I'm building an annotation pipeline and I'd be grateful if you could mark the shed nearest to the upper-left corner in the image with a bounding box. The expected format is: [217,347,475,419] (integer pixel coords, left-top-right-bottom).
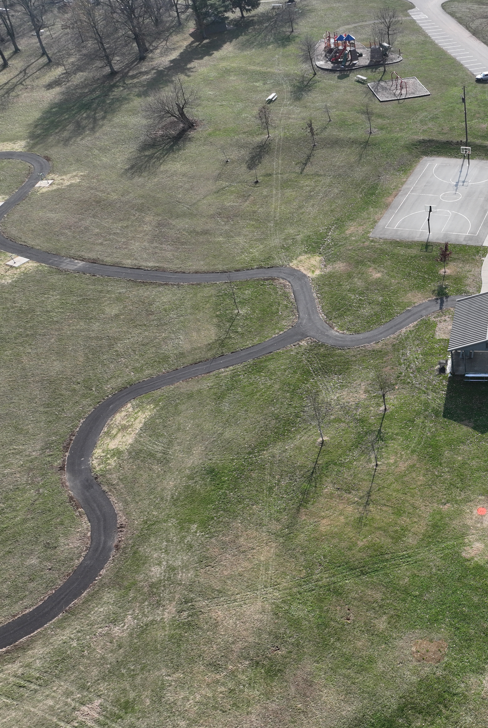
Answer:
[190,18,228,39]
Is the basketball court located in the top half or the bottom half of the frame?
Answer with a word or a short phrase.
top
